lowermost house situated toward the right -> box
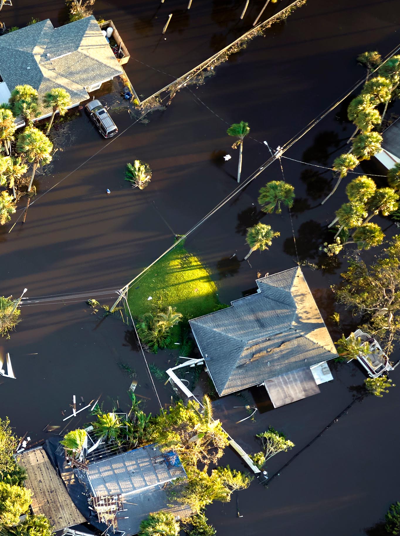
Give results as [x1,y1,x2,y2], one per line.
[187,266,339,409]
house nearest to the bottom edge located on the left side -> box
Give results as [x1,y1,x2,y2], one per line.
[11,438,187,536]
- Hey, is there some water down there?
Yes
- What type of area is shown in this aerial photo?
residential area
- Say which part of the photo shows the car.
top left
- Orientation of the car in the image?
diagonally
